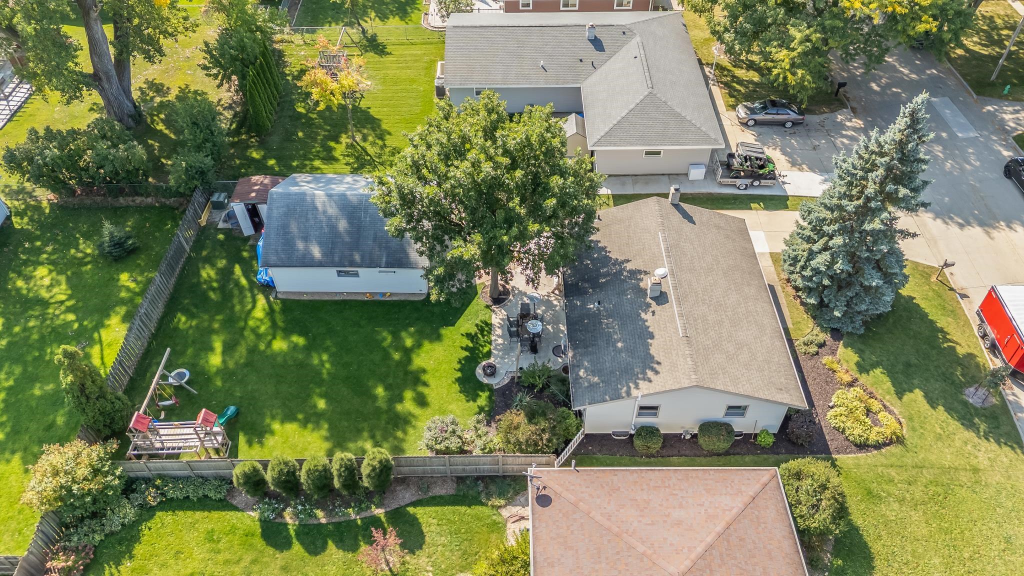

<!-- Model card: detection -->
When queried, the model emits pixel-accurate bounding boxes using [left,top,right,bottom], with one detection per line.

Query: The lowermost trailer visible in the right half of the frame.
[977,285,1024,363]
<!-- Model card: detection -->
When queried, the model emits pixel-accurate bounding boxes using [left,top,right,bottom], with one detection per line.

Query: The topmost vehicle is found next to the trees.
[735,98,805,128]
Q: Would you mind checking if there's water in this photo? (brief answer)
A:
No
